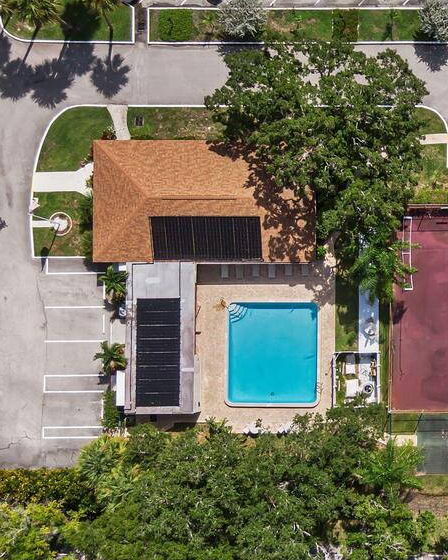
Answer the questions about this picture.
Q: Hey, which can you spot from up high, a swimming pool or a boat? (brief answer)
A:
swimming pool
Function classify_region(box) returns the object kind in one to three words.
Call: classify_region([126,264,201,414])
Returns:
building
